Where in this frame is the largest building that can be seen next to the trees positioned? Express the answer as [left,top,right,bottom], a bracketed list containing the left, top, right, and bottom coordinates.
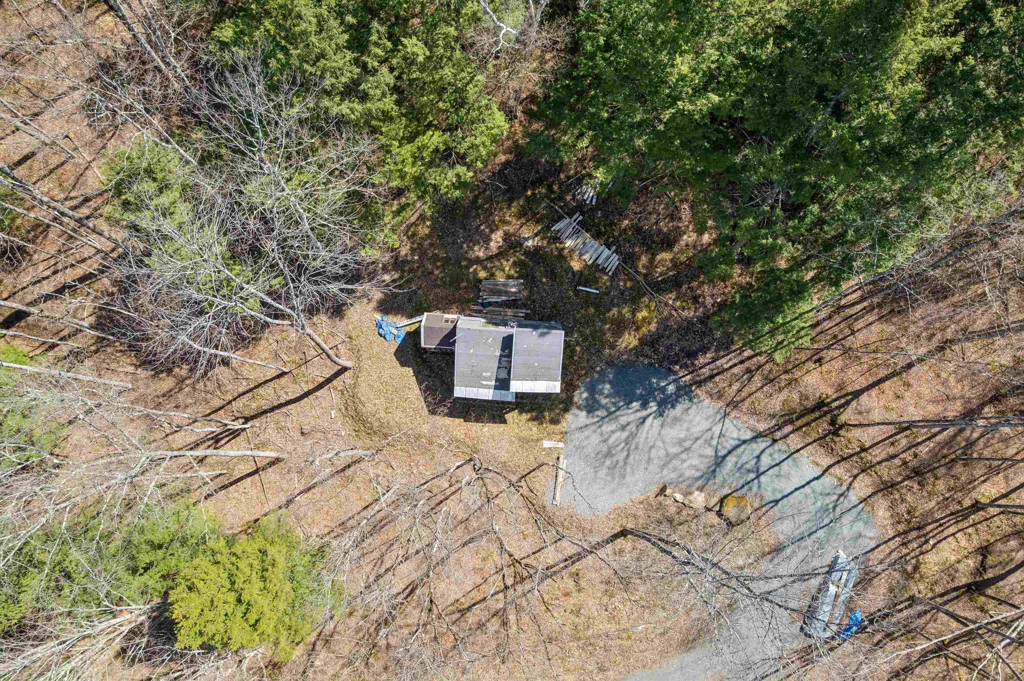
[453,315,572,402]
